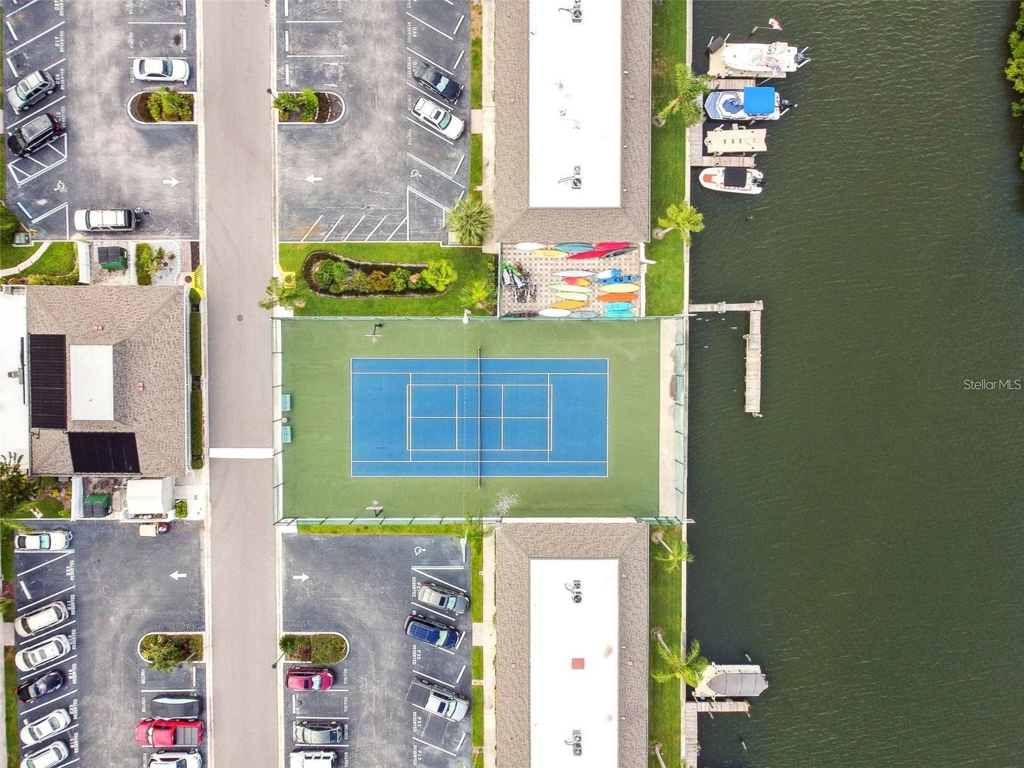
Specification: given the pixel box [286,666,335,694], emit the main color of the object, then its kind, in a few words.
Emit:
pink car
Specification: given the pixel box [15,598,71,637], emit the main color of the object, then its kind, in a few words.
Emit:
white car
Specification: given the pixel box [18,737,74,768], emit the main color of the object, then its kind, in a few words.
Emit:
white car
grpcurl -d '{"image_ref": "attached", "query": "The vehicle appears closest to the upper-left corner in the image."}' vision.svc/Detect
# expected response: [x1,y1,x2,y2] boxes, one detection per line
[6,70,59,111]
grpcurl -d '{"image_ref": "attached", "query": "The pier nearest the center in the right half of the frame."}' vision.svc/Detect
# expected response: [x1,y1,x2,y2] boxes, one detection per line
[689,300,763,418]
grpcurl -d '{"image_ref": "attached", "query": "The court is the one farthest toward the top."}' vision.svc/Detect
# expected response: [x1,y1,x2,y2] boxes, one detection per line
[282,321,677,517]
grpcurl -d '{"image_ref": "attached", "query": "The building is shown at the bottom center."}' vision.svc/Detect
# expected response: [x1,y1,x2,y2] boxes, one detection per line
[495,522,650,768]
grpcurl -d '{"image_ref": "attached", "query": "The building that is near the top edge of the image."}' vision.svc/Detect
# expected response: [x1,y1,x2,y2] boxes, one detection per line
[494,0,653,243]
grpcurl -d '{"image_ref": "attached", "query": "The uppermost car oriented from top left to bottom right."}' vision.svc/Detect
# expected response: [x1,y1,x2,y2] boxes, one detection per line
[412,62,464,105]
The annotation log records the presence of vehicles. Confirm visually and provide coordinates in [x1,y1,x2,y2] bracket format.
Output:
[405,679,470,720]
[296,720,344,748]
[16,633,73,672]
[15,529,73,554]
[14,667,69,706]
[133,56,191,83]
[286,666,335,694]
[136,522,172,539]
[149,750,204,768]
[412,62,464,105]
[411,96,465,140]
[136,718,204,749]
[417,583,470,616]
[18,737,74,768]
[21,706,75,745]
[8,114,66,157]
[290,748,338,768]
[404,615,460,650]
[74,205,135,233]
[15,598,71,637]
[6,70,59,111]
